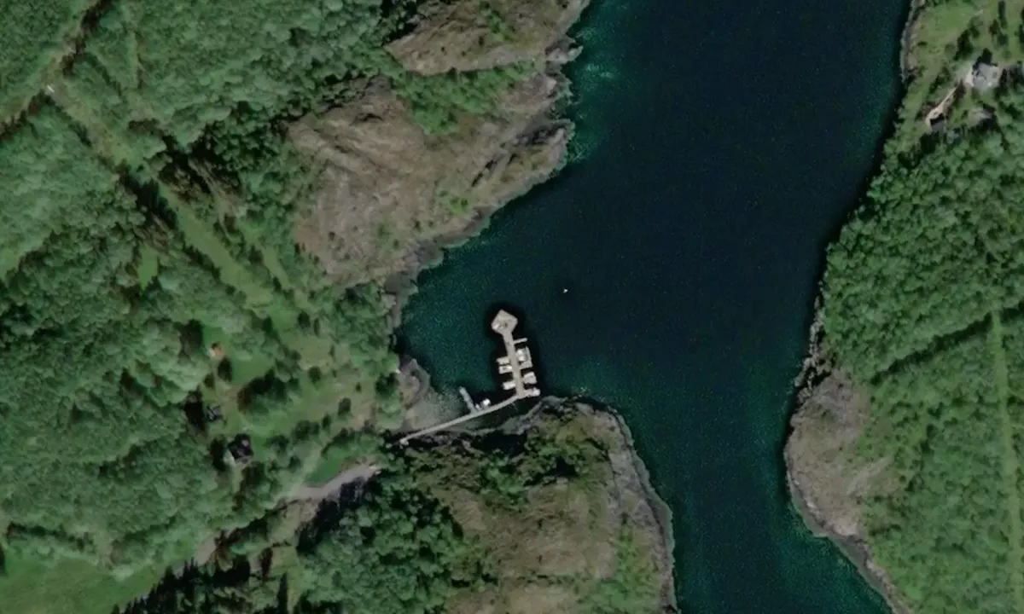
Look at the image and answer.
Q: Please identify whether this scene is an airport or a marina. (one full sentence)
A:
This image shows a marina.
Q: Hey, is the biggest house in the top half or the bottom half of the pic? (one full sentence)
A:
The biggest house sits in the top half of the picture.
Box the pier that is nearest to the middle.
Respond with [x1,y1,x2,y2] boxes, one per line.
[492,309,536,399]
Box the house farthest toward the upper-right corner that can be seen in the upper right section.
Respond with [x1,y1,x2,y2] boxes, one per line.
[969,64,999,89]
